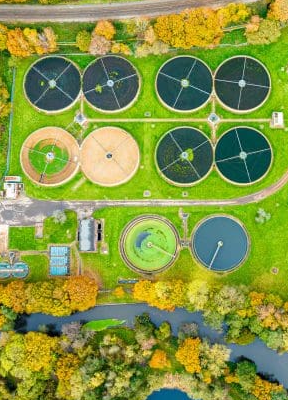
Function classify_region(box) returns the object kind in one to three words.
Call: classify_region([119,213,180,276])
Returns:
storage tank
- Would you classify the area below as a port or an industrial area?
industrial area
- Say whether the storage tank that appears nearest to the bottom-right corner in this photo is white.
No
